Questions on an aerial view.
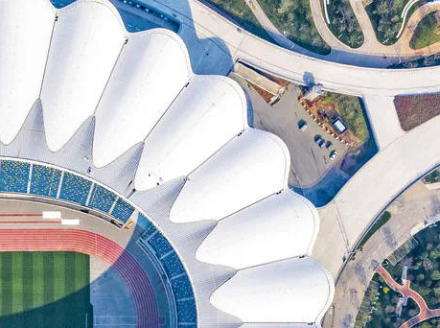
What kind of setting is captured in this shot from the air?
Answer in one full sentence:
The picture captures a sports ground.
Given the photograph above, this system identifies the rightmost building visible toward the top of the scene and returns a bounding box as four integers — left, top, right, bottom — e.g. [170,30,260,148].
[328,112,350,136]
